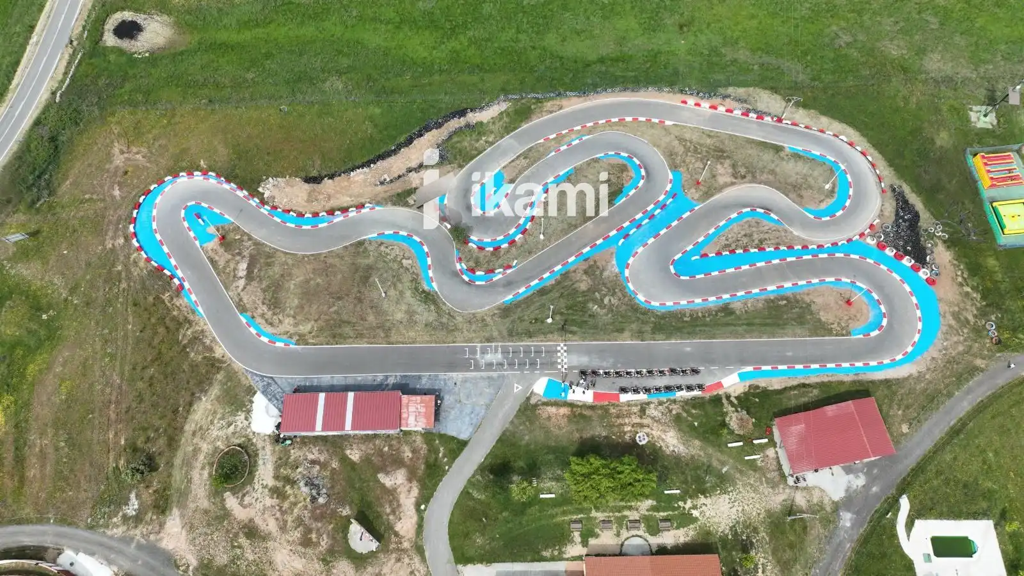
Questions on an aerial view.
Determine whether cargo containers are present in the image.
No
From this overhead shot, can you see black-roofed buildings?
No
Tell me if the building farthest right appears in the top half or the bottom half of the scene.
bottom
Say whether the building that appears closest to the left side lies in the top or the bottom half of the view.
bottom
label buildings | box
[580,555,723,576]
[281,391,401,435]
[770,397,895,476]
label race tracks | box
[157,100,917,376]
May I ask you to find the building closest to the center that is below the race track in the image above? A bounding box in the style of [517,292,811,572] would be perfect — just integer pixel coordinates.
[401,395,435,430]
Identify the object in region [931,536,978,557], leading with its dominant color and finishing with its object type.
green swimming pool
